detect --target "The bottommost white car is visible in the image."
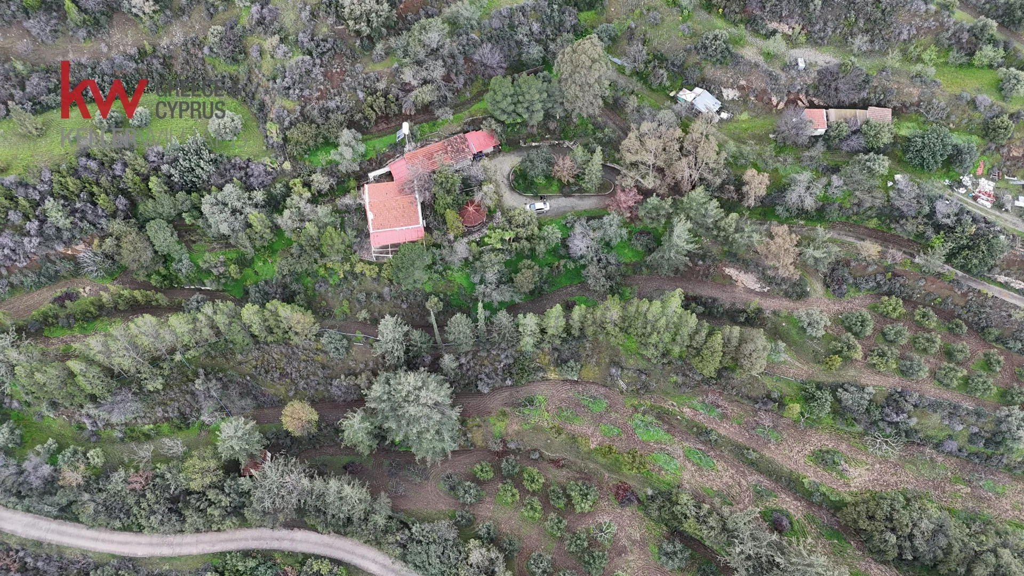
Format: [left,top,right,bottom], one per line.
[527,199,550,211]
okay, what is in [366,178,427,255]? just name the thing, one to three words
house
